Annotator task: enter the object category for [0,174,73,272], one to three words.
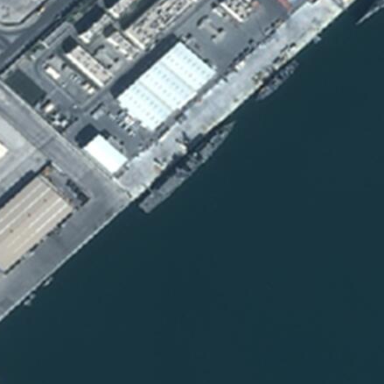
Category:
building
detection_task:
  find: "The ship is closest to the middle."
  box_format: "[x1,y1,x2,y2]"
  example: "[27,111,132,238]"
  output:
[139,120,236,214]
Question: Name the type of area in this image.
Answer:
port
